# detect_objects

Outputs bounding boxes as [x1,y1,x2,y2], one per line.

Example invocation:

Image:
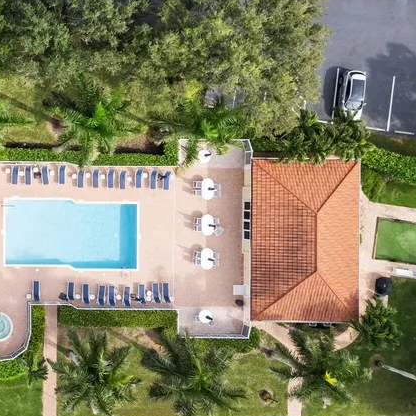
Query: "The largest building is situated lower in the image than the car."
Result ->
[237,160,361,322]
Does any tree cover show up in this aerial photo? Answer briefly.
Yes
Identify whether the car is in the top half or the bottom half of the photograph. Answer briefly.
top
